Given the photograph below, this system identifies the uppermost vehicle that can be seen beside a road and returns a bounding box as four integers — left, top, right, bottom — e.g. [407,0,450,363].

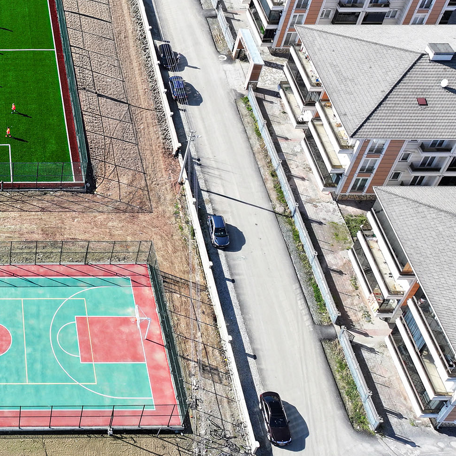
[160,38,179,65]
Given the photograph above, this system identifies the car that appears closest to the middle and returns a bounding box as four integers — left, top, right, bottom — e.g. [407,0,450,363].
[207,207,234,246]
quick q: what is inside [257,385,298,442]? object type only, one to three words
car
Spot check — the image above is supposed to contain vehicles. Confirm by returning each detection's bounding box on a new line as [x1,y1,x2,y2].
[207,207,234,246]
[160,38,179,65]
[170,73,191,98]
[257,385,298,442]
